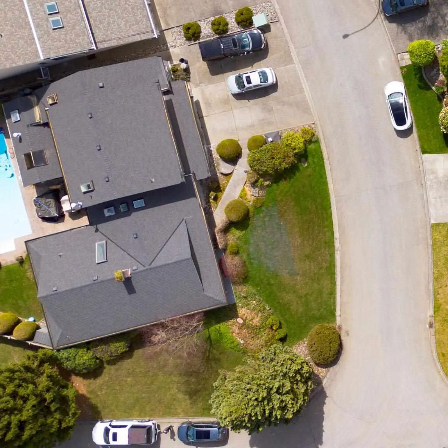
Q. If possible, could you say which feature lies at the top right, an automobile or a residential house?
automobile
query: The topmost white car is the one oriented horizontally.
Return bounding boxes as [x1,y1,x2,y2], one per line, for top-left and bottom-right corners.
[227,68,278,94]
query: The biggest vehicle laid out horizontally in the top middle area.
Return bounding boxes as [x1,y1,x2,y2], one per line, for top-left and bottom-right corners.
[197,30,267,62]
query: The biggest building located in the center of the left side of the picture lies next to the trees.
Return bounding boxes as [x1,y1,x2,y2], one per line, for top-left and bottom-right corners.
[2,55,228,349]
